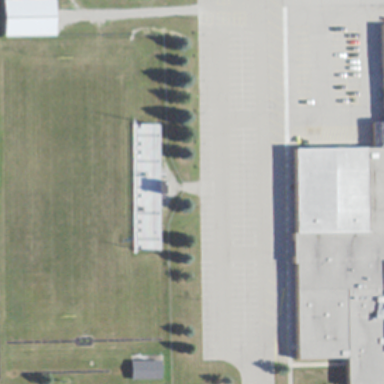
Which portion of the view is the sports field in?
left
